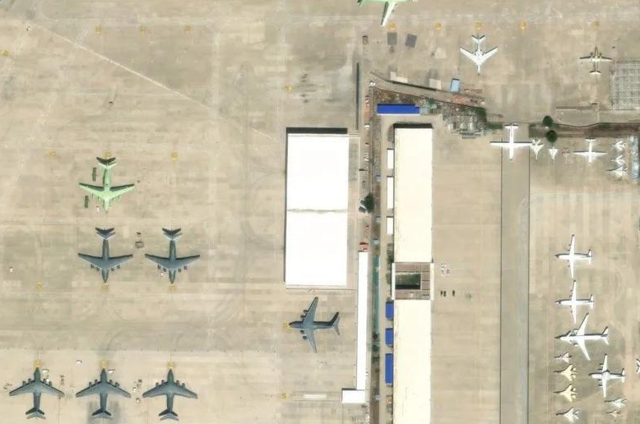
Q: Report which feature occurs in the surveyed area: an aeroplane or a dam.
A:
aeroplane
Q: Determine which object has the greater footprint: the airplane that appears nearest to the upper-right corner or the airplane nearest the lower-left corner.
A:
the airplane nearest the lower-left corner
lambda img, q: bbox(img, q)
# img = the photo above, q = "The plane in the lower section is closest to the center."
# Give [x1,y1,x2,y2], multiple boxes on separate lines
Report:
[289,296,339,352]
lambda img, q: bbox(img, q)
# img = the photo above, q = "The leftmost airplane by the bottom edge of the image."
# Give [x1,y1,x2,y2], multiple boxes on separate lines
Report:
[9,368,64,420]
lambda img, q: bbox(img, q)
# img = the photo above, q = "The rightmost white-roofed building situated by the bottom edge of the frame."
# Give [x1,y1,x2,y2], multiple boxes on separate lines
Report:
[393,301,431,424]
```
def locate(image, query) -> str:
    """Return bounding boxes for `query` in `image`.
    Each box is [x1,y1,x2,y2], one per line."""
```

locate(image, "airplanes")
[579,46,613,72]
[556,385,577,401]
[78,161,133,212]
[558,314,612,361]
[143,369,198,421]
[558,408,579,424]
[590,355,626,397]
[557,354,572,363]
[529,137,545,158]
[612,156,627,164]
[460,36,498,75]
[606,394,627,411]
[491,125,533,160]
[556,236,593,278]
[608,411,621,418]
[614,142,628,150]
[76,368,131,420]
[557,281,594,324]
[289,296,339,352]
[548,146,559,160]
[557,364,576,381]
[607,164,628,180]
[145,233,200,284]
[9,368,64,420]
[77,233,133,283]
[574,139,607,164]
[375,0,407,26]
